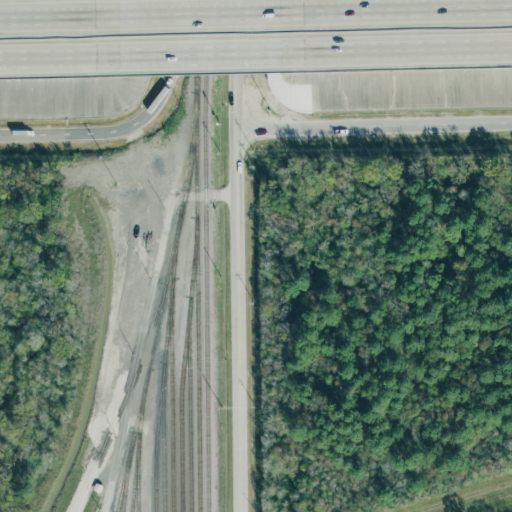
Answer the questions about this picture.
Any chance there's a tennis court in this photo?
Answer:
No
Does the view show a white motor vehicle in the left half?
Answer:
Yes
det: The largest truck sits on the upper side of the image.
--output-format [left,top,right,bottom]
[146,78,176,114]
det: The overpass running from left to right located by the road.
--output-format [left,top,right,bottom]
[96,0,306,76]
